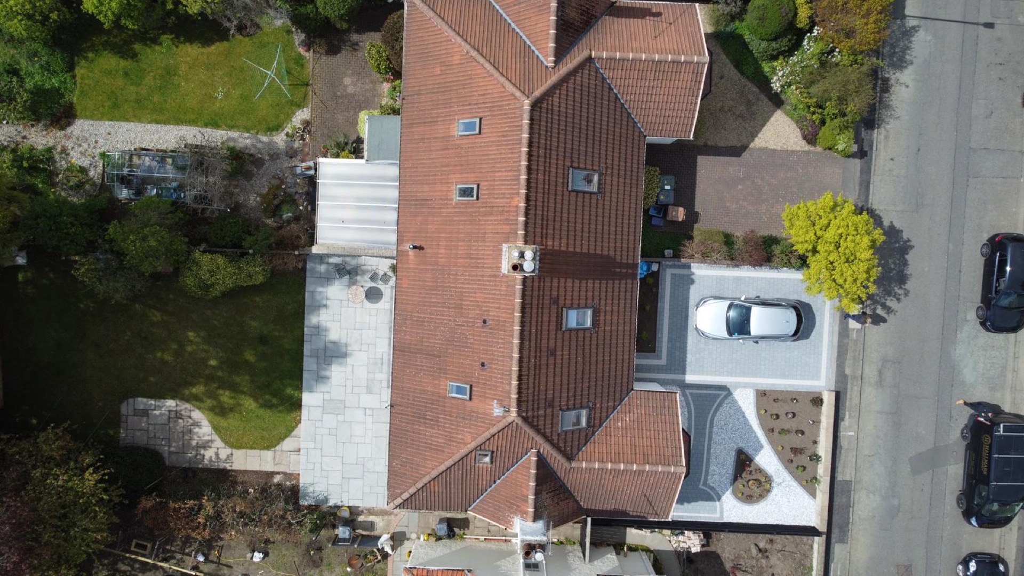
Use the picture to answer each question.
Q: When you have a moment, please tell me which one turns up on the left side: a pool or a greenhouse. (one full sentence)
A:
Visible on the left side is a greenhouse.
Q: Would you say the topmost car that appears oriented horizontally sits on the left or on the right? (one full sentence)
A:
It is on the right.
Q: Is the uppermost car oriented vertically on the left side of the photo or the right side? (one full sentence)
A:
It is on the right.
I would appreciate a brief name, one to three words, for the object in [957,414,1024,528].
van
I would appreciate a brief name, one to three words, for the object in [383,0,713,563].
house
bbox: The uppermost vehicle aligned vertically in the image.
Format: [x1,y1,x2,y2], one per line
[976,231,1024,333]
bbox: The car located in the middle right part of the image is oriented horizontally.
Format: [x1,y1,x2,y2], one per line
[690,292,803,346]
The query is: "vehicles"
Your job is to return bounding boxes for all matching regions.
[976,231,1024,333]
[690,292,803,346]
[957,414,1024,528]
[950,554,1007,576]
